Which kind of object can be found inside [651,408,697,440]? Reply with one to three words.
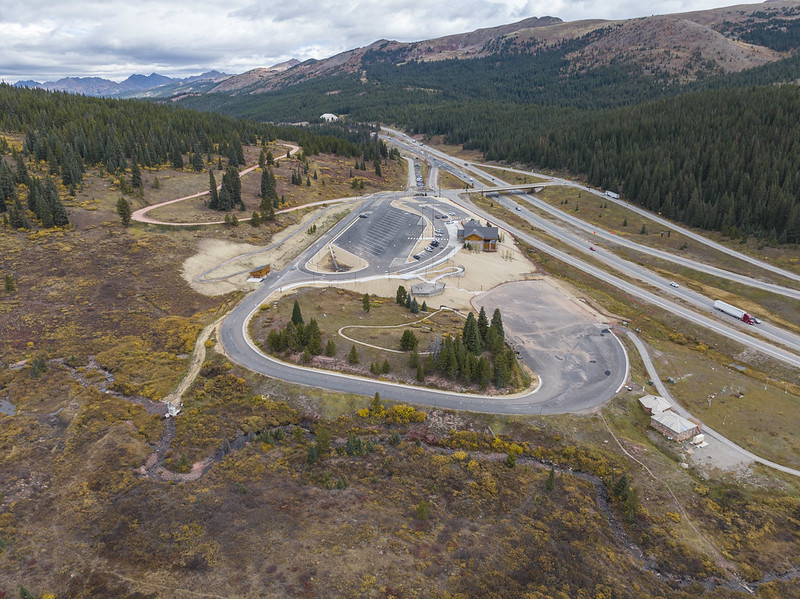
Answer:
building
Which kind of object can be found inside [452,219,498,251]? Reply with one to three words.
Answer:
building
